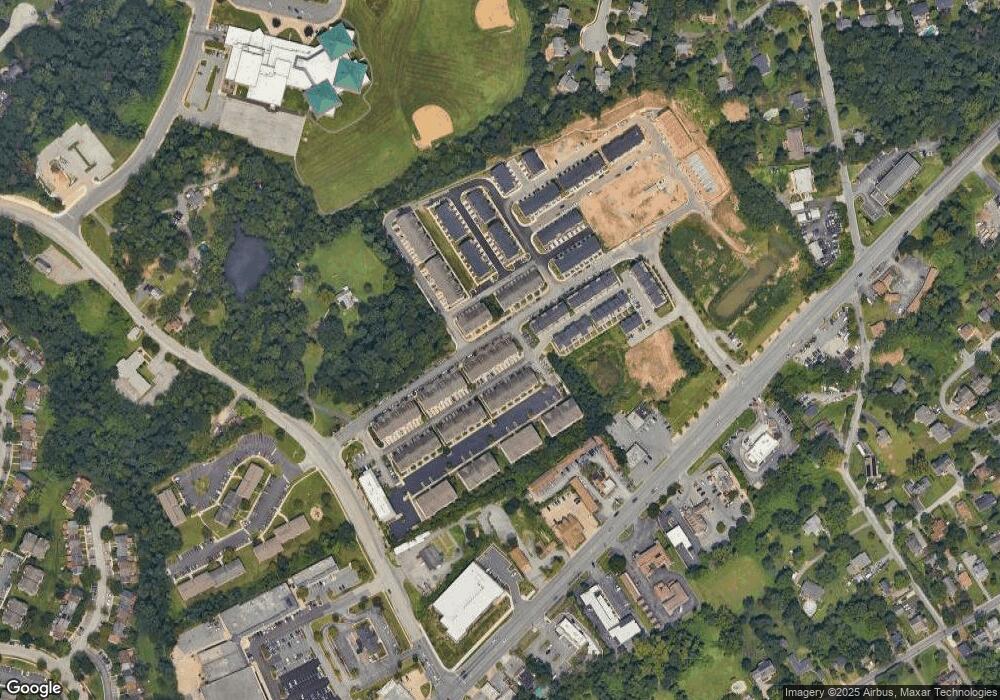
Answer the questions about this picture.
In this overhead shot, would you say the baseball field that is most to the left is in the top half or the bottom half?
top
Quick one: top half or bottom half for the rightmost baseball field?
top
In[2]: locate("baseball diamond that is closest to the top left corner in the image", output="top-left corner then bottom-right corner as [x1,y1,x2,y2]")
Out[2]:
[412,104,453,151]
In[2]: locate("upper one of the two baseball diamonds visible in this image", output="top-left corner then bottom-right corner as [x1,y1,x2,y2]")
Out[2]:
[475,0,519,33]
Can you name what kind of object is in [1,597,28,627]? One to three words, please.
house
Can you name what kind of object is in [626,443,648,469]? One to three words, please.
building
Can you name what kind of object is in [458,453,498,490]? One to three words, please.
building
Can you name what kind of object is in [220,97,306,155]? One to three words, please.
sports court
